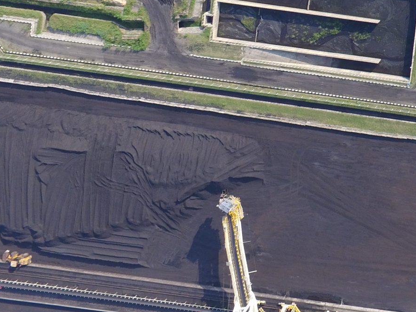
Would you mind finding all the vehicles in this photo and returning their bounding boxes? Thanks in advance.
[7,247,34,262]
[278,291,314,312]
[215,188,271,312]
